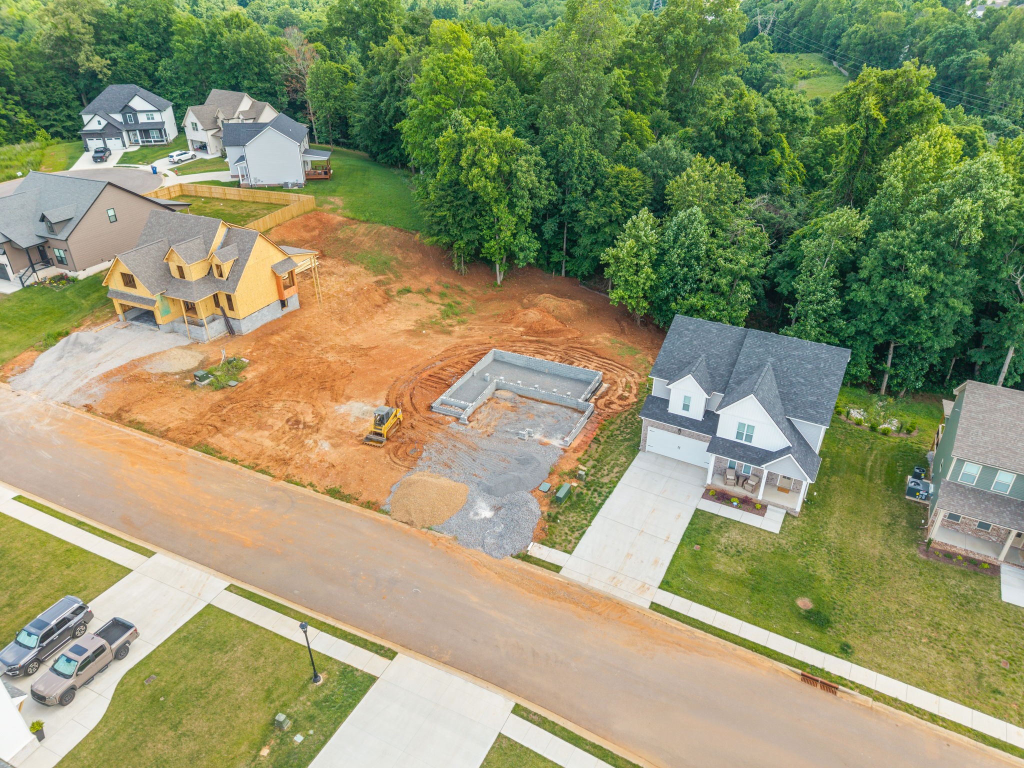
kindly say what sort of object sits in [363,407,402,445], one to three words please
work vehicle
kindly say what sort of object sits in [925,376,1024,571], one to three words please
building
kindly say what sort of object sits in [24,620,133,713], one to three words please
truck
